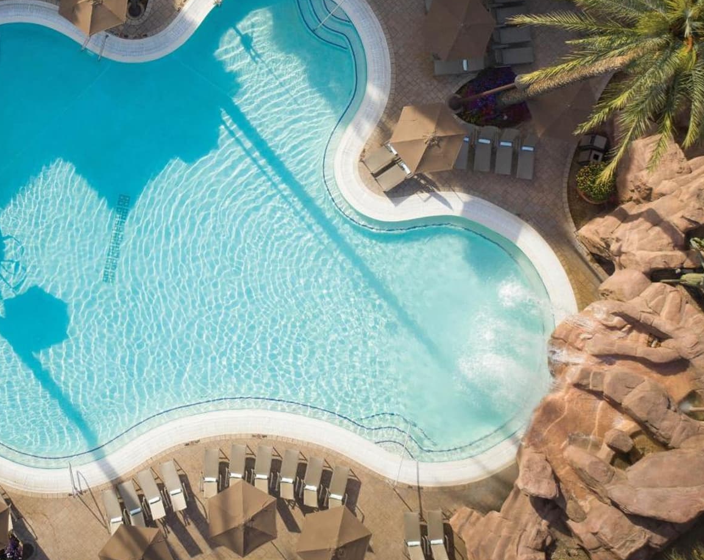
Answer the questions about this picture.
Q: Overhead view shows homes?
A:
No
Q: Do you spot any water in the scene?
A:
Yes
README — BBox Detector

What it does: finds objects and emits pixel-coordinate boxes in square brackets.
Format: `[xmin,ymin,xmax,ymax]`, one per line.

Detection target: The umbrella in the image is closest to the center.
[385,102,466,175]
